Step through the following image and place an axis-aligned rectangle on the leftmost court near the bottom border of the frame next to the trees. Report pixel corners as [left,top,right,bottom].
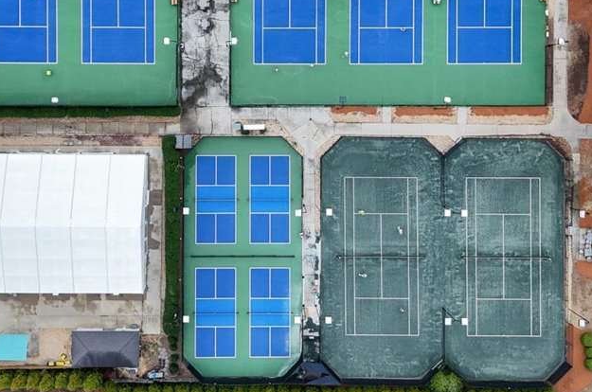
[184,257,242,379]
